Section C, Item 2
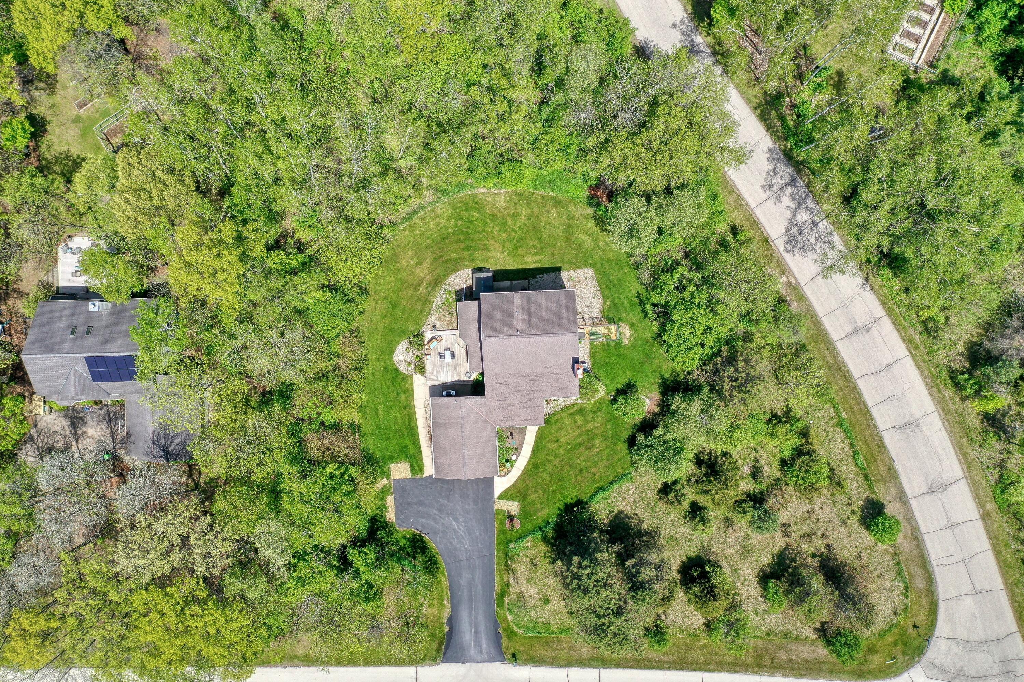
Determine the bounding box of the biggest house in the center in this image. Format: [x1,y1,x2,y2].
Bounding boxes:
[429,288,584,481]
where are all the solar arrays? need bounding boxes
[85,356,154,382]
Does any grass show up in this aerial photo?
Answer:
Yes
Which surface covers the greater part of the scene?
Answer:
trees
